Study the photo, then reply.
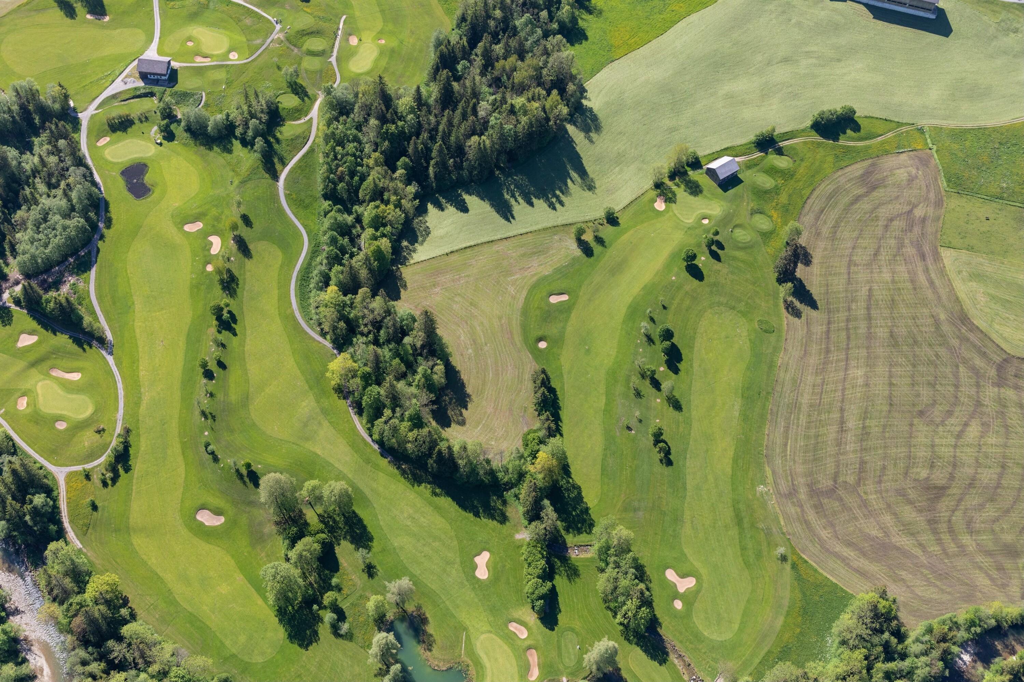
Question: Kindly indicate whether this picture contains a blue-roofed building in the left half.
No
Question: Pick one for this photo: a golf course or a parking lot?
golf course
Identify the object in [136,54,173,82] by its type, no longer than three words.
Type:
house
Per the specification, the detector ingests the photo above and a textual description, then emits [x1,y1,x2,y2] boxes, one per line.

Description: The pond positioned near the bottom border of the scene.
[392,616,467,682]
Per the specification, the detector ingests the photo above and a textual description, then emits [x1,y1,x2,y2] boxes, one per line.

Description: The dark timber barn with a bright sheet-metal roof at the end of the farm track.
[706,155,740,184]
